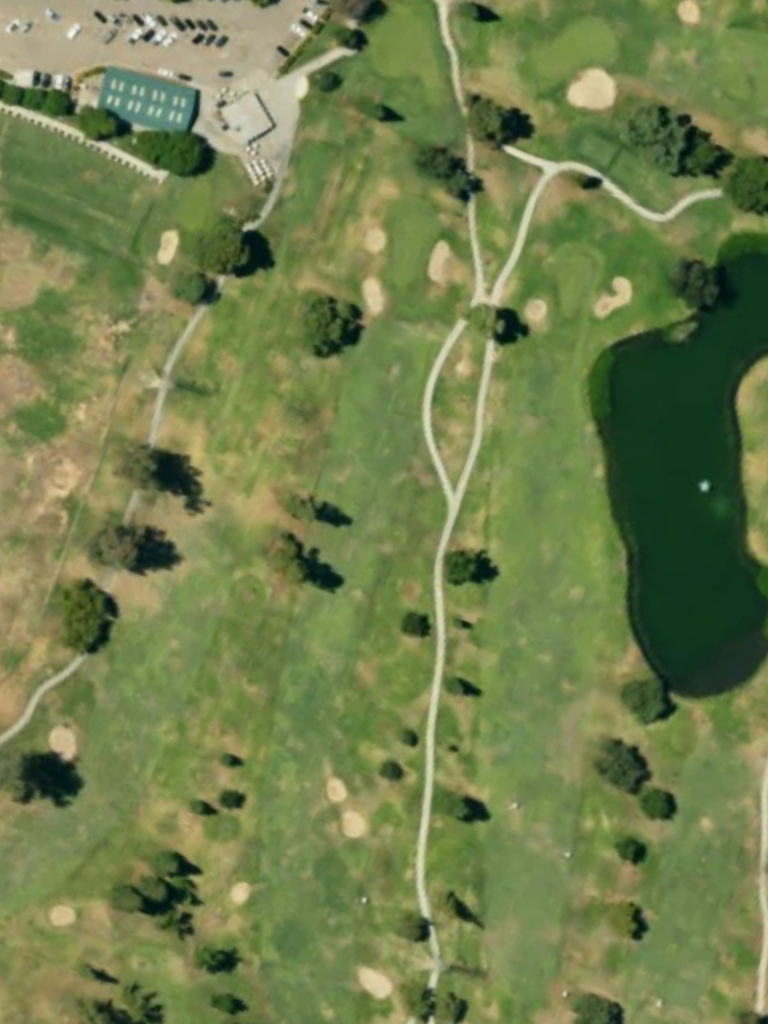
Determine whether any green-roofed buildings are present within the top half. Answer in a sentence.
Yes, I can see a green-roofed building within the top half.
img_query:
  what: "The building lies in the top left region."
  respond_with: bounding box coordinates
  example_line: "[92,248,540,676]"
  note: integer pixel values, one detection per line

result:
[98,66,198,132]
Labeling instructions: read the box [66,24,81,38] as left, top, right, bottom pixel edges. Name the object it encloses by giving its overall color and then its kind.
white vehicle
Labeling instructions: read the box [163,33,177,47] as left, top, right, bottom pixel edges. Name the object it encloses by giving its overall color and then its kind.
white vehicle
